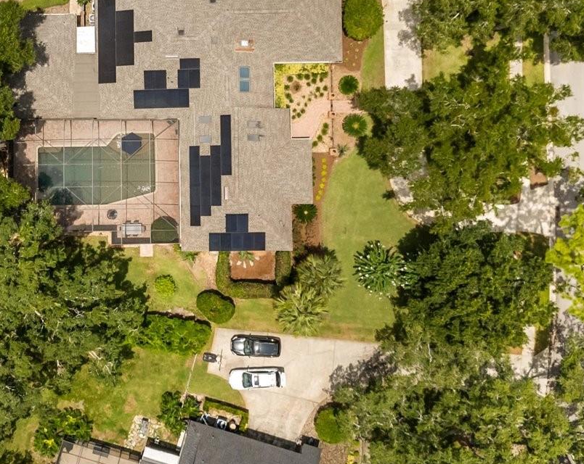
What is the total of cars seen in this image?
2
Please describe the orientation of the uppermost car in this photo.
from side to side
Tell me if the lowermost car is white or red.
white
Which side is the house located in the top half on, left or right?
left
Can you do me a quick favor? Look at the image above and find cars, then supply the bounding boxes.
[231,368,283,391]
[231,335,281,358]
